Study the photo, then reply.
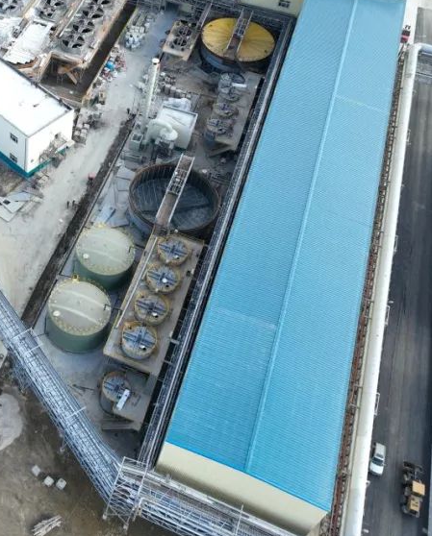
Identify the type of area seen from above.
industrial area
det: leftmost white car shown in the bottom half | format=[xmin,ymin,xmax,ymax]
[370,441,387,475]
